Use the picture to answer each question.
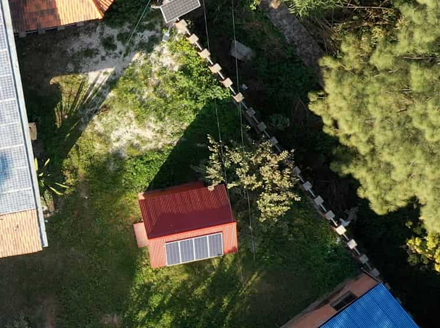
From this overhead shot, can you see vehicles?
No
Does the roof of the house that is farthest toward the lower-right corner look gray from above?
No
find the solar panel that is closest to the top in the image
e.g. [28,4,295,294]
[160,0,200,23]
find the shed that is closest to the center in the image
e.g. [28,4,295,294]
[131,176,237,268]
